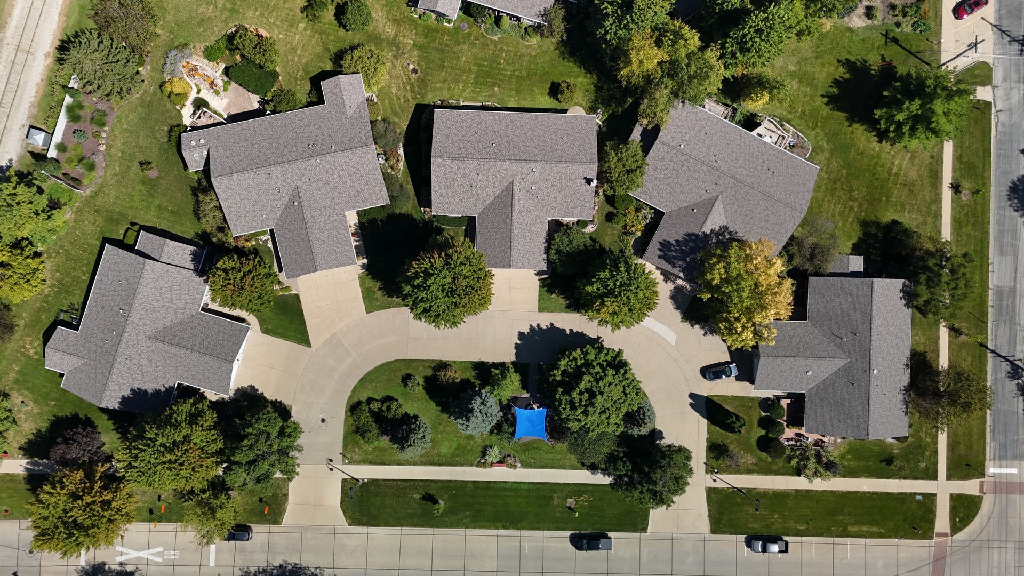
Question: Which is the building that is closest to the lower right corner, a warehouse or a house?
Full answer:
In the photo, the building that is closest to the lower right corner shows up as a house.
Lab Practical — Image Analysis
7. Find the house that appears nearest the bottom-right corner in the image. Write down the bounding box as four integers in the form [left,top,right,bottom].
[750,255,913,439]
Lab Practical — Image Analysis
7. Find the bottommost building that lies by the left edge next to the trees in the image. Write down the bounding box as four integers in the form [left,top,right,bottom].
[44,230,254,415]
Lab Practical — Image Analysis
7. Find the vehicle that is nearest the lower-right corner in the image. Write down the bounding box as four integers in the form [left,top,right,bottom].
[753,540,792,557]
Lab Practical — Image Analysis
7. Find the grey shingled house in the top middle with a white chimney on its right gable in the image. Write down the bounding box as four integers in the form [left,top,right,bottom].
[431,109,597,270]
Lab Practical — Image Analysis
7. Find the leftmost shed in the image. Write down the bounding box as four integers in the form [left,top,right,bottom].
[22,127,49,149]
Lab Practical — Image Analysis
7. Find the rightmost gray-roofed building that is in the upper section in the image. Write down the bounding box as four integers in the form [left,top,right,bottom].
[627,103,819,290]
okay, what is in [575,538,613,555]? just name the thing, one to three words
vehicle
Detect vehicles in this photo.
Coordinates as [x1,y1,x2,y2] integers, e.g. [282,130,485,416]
[575,538,613,555]
[957,0,992,17]
[753,540,792,557]
[705,363,738,381]
[218,526,251,543]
